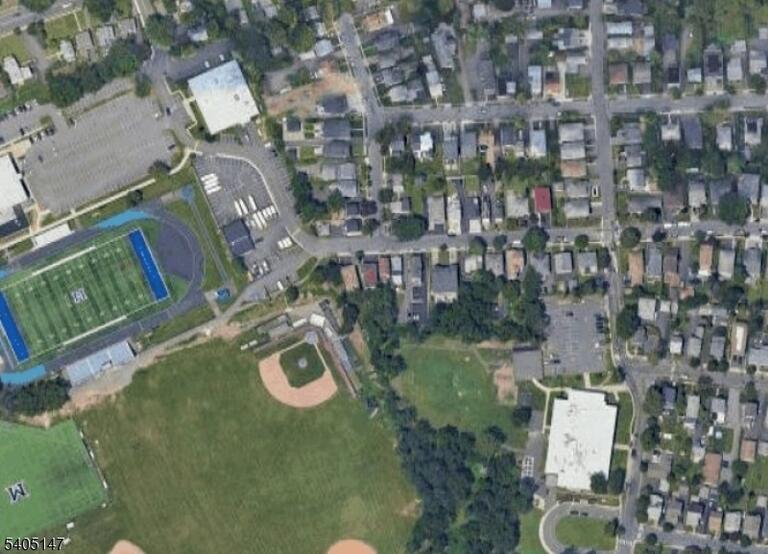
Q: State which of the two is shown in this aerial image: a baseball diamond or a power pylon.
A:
baseball diamond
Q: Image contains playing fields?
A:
Yes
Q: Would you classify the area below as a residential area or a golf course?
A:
residential area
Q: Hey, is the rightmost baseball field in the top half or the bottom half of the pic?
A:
bottom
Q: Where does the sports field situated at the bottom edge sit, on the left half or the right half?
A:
left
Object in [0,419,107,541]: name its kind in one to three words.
sports field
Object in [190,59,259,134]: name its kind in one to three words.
building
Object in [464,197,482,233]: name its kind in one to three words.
house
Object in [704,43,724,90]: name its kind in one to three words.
house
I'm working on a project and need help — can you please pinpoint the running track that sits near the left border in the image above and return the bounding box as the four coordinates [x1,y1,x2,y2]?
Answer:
[0,209,206,385]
